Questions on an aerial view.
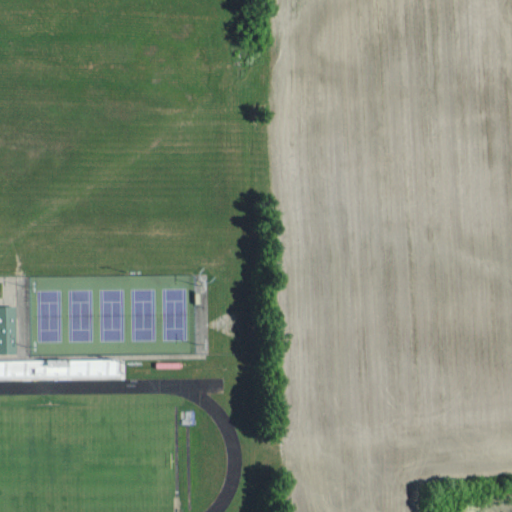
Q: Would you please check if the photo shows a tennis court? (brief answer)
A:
Yes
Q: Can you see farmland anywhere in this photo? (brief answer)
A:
Yes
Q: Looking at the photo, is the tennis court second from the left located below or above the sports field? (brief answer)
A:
above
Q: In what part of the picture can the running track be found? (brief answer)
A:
bottom left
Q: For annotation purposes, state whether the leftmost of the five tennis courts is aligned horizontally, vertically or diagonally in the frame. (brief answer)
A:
vertically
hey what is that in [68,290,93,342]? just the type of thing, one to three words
tennis court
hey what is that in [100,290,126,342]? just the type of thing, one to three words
tennis court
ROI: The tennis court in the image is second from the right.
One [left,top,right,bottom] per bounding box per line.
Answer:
[130,290,156,342]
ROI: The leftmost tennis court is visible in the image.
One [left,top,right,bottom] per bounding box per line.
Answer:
[38,290,64,342]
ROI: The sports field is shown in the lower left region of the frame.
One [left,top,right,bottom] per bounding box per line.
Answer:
[0,394,176,512]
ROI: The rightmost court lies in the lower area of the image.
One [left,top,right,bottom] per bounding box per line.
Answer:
[162,289,189,342]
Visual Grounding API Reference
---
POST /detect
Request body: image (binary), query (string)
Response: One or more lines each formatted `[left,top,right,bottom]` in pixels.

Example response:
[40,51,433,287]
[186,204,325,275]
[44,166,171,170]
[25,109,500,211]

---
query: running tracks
[0,378,242,512]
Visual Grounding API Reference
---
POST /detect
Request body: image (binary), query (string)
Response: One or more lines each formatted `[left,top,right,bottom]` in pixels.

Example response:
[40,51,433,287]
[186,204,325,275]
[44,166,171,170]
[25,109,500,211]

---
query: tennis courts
[68,290,93,342]
[130,290,156,342]
[38,290,64,342]
[162,289,189,342]
[100,290,126,342]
